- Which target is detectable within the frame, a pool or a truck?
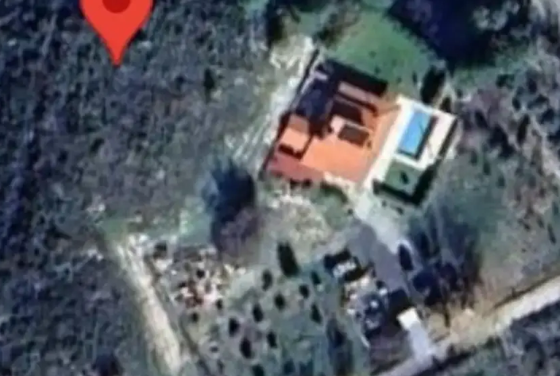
pool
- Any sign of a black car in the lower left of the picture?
No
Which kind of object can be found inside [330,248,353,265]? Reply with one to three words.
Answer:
car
